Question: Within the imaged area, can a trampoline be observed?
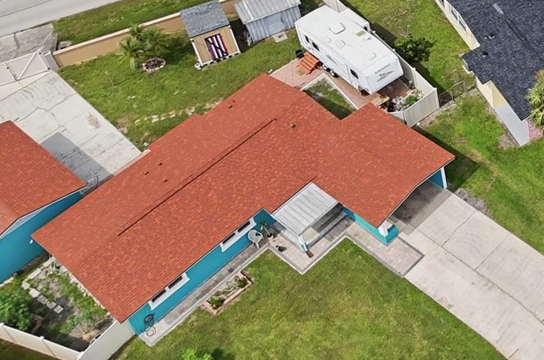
No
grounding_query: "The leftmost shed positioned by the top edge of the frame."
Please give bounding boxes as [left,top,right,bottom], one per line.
[182,0,237,59]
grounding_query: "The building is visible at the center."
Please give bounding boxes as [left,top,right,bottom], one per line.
[30,73,456,336]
